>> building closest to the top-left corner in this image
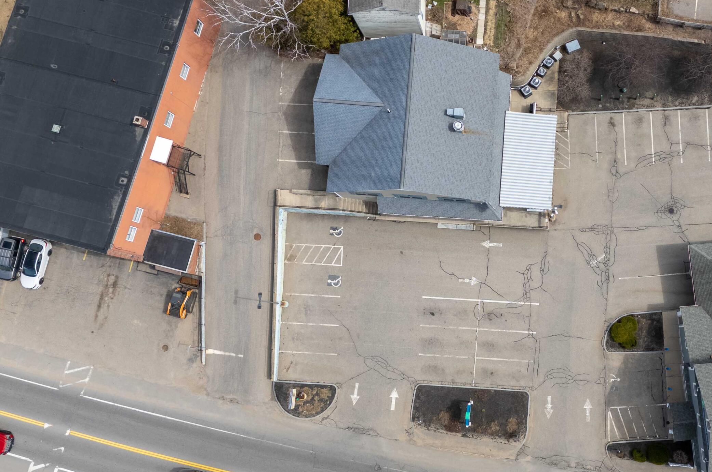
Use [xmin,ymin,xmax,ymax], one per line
[0,0,215,255]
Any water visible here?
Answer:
No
